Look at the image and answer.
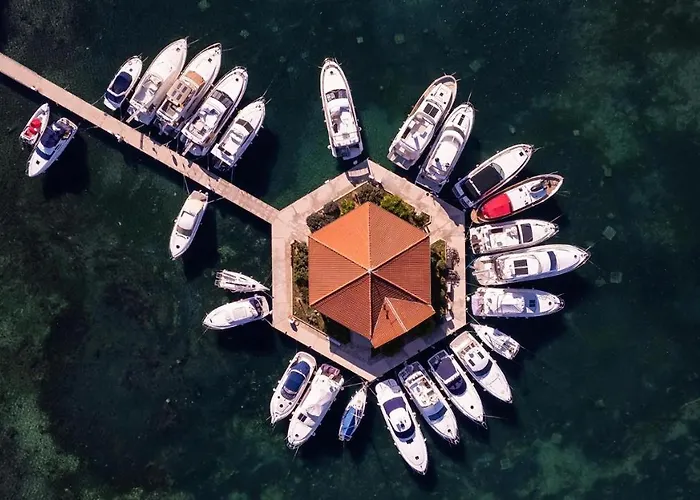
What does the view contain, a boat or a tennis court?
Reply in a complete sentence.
There is a boat in the scene.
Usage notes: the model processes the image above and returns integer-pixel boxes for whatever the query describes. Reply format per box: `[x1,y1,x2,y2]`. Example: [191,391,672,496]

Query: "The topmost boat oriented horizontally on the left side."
[216,272,275,297]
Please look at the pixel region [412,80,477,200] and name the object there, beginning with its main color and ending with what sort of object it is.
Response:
white boat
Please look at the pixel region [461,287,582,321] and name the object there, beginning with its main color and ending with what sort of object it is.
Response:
white boat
